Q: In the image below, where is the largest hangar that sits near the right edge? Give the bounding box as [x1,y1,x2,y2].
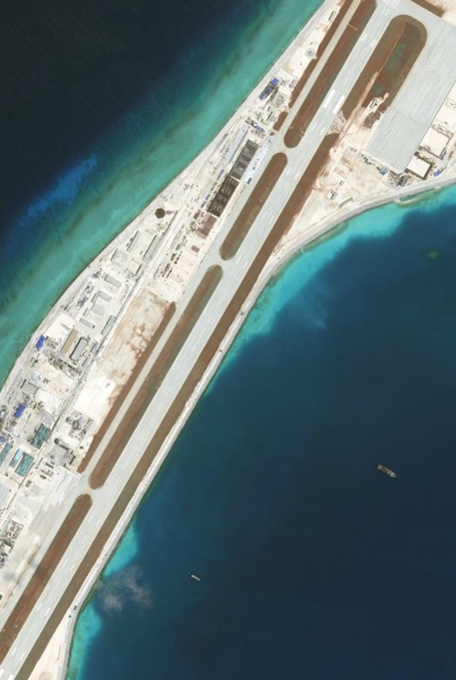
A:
[418,127,451,159]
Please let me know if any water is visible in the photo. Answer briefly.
Yes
